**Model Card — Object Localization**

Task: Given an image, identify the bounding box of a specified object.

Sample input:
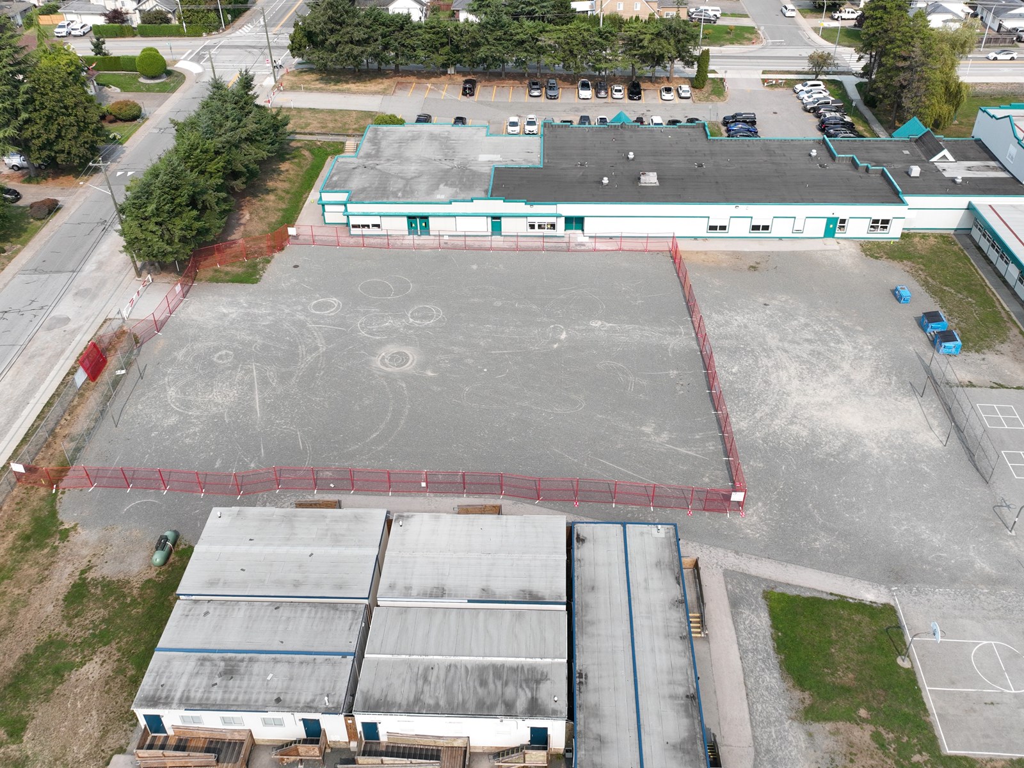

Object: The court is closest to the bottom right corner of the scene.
[893,588,1024,768]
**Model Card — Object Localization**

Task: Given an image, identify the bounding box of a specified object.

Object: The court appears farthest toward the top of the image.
[958,387,1024,533]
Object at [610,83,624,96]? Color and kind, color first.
white vehicle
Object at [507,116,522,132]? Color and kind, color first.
white car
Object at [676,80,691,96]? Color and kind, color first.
white car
